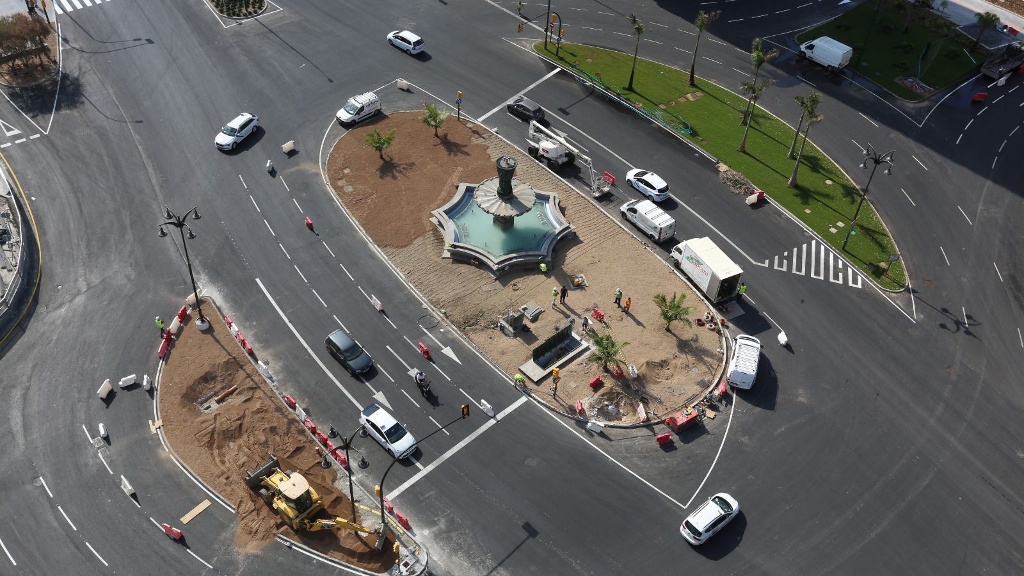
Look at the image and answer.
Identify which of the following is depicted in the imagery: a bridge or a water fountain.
water fountain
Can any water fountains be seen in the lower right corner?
No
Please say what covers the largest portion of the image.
paved ground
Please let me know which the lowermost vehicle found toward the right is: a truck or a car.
car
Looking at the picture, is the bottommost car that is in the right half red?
No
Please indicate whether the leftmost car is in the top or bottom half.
top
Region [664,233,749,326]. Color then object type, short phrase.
white truck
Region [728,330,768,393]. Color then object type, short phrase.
white van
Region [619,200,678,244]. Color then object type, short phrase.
white van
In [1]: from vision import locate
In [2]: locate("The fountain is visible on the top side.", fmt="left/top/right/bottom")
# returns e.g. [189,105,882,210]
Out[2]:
[426,155,582,281]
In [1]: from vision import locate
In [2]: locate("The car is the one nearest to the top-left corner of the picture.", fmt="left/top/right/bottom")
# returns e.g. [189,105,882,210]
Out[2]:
[214,114,258,149]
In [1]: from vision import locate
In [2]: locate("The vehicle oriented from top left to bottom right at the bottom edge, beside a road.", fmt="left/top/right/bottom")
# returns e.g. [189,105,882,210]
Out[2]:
[240,453,389,555]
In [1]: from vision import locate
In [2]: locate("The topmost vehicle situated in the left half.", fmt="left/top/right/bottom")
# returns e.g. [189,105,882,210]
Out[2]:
[386,28,427,55]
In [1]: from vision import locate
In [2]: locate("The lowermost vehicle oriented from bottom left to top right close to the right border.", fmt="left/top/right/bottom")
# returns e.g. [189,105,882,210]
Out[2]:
[982,28,1024,74]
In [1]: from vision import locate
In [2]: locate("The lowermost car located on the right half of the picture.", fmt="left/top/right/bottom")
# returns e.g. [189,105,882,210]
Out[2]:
[680,489,741,545]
